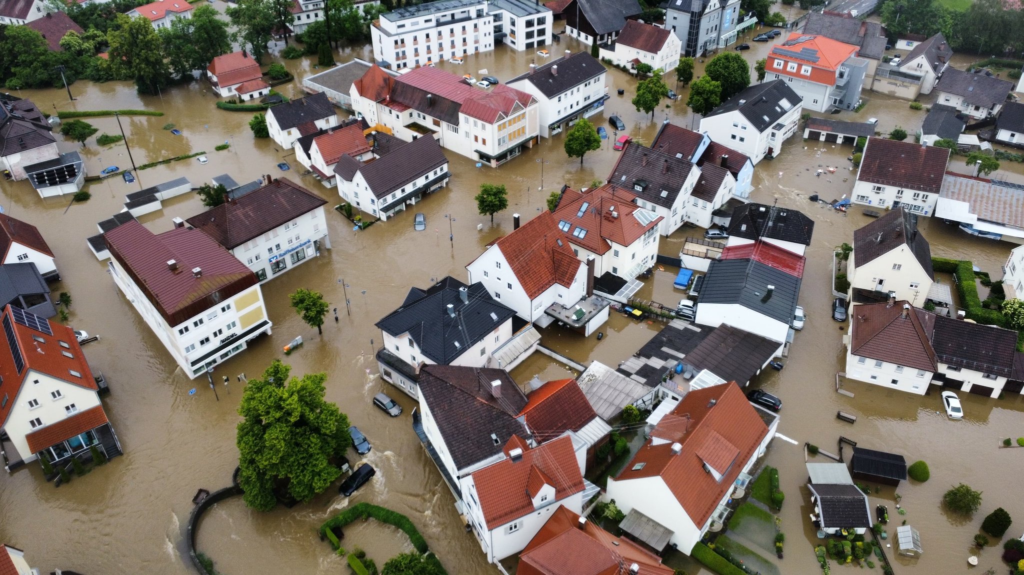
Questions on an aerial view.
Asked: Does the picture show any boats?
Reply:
No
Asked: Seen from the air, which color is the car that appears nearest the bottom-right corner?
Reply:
white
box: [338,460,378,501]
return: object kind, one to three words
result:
car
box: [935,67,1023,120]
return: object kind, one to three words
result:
house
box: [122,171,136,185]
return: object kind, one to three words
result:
car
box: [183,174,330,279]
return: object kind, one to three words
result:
building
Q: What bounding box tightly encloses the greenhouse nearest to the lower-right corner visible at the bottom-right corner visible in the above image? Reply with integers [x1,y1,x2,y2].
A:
[891,523,923,558]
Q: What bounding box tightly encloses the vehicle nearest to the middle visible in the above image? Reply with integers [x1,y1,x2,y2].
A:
[414,213,426,232]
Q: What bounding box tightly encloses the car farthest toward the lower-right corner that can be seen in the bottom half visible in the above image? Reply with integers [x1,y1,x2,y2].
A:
[939,394,963,422]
